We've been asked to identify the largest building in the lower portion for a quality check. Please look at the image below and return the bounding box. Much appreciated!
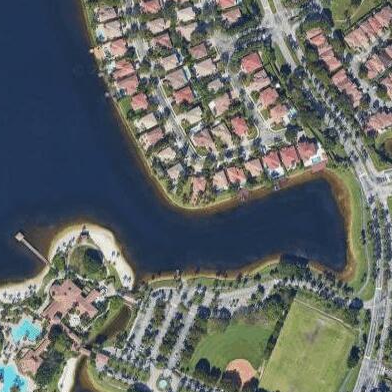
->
[34,276,102,351]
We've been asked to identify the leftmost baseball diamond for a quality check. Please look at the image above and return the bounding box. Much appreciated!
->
[194,320,277,392]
